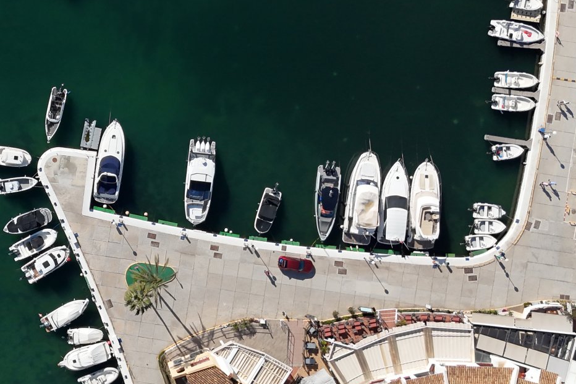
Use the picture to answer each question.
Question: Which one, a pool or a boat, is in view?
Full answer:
Of the two, only a boat appears.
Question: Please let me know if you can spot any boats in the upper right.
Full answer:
Yes, the scene does show a boat in the upper right.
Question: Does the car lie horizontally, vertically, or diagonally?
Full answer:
The car is laid out horizontally.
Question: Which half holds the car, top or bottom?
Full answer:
The car is in the bottom half of the image.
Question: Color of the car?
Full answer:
The car is red.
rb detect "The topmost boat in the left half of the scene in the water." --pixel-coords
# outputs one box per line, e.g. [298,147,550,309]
[45,78,68,144]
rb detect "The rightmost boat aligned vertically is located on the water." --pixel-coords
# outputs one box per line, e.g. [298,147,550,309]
[407,158,443,248]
